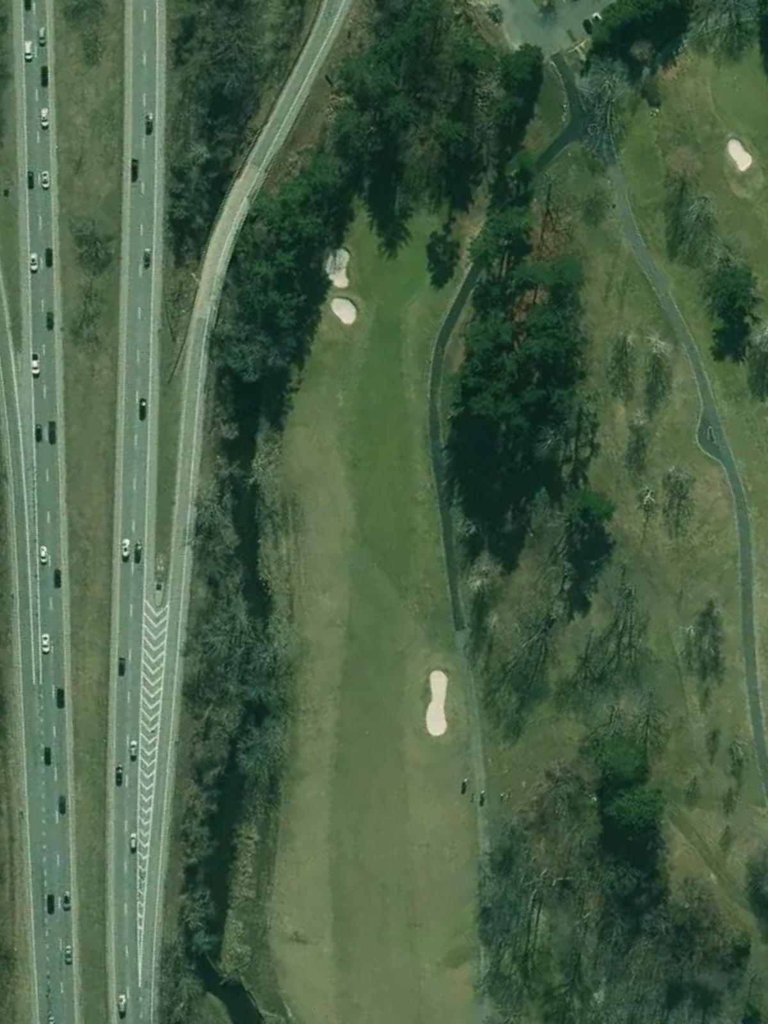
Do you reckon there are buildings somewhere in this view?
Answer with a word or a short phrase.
No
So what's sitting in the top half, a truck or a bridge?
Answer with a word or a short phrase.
bridge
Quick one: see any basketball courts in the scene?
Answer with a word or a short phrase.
No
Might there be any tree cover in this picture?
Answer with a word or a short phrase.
Yes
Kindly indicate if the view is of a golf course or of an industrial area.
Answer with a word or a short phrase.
golf course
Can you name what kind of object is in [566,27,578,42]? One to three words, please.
vehicle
